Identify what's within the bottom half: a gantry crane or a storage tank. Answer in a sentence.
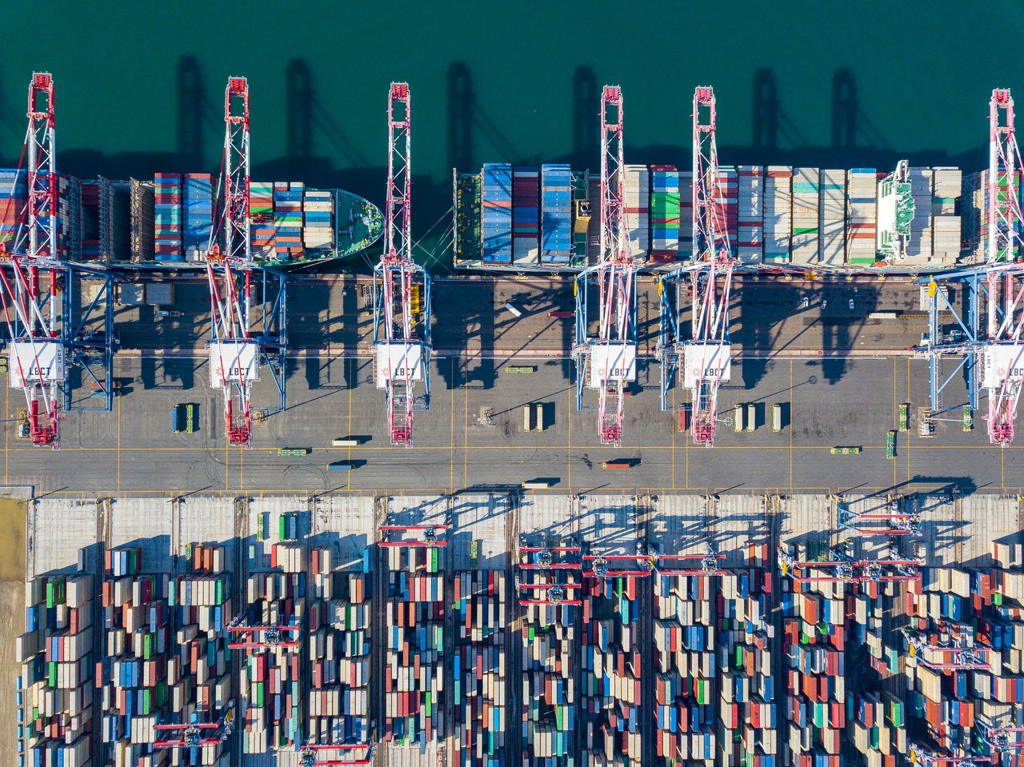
The one visible within the bottom half is a gantry crane.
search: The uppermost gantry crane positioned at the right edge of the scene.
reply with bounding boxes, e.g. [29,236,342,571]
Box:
[903,84,1024,450]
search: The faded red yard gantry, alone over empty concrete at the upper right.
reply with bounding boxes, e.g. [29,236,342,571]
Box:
[838,501,924,536]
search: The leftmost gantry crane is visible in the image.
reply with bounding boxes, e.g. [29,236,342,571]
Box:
[0,70,136,453]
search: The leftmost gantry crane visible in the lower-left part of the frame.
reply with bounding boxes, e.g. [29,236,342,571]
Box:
[157,699,239,748]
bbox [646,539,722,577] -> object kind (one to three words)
container crane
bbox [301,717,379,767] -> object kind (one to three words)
container crane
